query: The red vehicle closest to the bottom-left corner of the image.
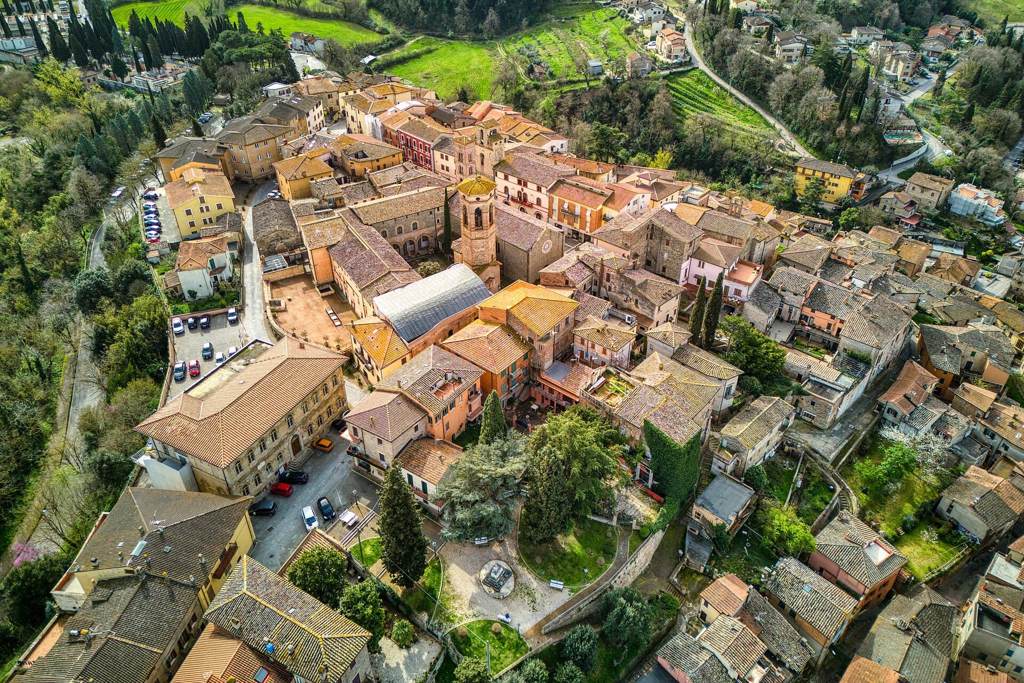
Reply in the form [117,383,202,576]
[268,481,293,496]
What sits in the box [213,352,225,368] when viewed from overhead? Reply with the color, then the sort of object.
white vehicle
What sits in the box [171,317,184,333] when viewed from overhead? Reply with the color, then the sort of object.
white vehicle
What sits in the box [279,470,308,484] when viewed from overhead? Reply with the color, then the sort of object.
black car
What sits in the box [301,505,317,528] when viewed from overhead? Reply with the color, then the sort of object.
white car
